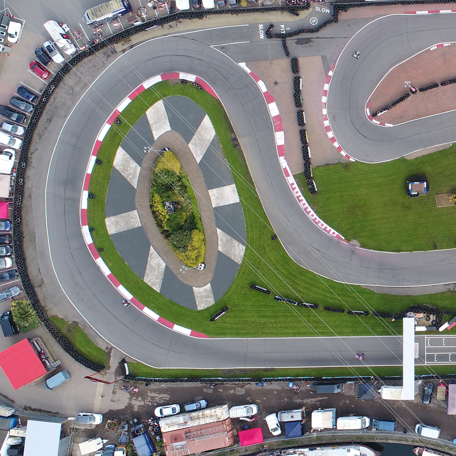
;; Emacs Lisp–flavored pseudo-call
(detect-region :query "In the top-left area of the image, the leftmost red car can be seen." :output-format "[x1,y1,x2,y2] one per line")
[28,59,52,82]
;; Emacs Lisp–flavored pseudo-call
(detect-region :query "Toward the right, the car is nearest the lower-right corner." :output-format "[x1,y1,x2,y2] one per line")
[414,423,442,439]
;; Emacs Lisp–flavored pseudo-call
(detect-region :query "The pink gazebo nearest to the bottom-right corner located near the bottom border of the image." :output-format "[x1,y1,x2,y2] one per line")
[239,425,268,446]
